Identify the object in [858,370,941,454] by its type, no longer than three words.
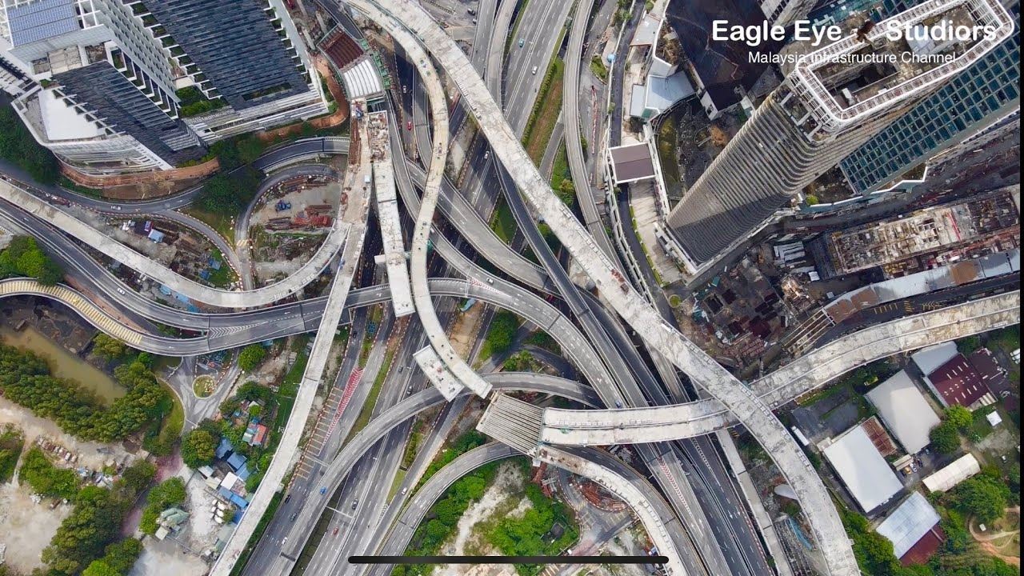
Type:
building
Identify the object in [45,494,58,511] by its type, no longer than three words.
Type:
vehicle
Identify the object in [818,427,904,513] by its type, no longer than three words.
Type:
building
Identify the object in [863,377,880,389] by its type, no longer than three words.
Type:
vehicle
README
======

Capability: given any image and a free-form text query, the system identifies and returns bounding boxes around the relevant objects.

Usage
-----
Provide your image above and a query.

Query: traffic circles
[183,365,225,407]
